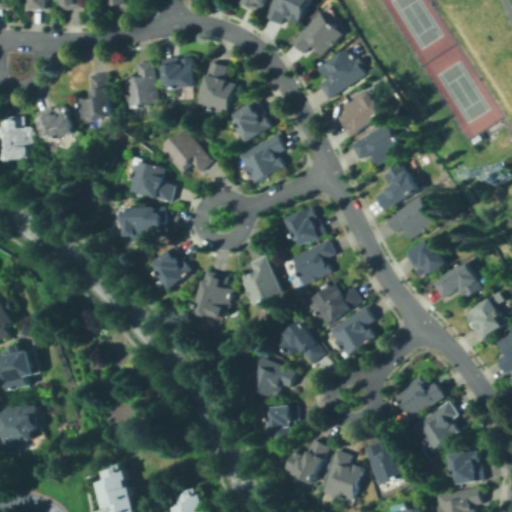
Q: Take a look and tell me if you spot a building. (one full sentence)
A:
Yes, there's a building down there.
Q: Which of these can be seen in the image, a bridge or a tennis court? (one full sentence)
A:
The image shows a tennis court.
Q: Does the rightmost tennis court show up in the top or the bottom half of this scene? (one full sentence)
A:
It is in the top half that the rightmost tennis court appears.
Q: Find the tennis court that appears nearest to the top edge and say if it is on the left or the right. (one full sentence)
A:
The tennis court that appears nearest to the top edge appears in the right half of the scene.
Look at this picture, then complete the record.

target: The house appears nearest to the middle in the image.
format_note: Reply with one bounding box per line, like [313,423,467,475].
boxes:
[242,254,284,306]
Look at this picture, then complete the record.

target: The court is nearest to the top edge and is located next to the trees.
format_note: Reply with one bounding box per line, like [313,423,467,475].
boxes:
[382,0,460,70]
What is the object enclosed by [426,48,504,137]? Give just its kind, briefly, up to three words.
tennis court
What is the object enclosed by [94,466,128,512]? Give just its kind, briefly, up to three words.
house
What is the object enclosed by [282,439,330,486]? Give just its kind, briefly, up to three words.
house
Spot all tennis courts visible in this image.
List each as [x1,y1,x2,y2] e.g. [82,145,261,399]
[382,0,460,70]
[426,48,504,137]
